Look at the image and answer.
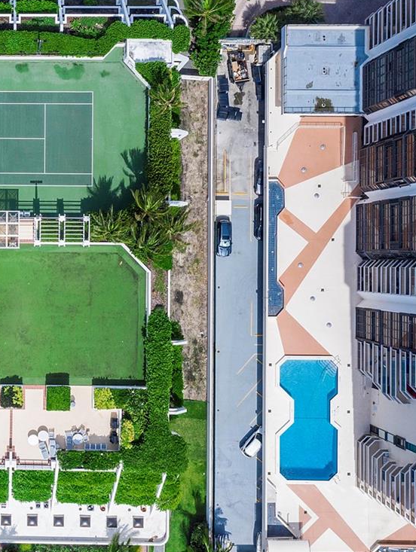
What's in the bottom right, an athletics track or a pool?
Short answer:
pool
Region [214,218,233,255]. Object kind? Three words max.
car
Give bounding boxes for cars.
[252,159,264,194]
[255,526,264,552]
[214,218,233,255]
[236,425,264,455]
[252,201,264,240]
